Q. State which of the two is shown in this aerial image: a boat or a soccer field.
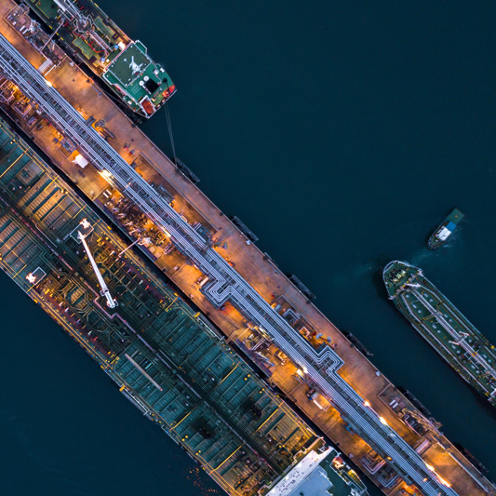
boat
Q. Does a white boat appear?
No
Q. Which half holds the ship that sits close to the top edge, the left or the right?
left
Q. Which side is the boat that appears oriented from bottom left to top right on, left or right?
right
